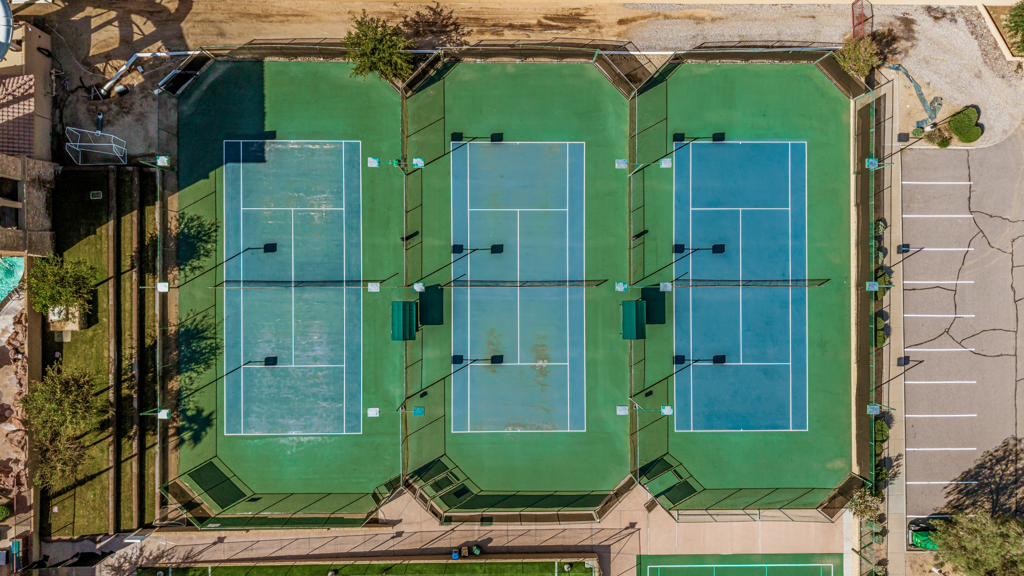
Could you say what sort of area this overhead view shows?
sports ground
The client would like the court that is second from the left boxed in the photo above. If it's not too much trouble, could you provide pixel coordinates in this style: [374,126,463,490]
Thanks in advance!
[407,62,630,512]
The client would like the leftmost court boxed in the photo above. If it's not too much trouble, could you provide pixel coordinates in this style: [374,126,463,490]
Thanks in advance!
[178,61,407,516]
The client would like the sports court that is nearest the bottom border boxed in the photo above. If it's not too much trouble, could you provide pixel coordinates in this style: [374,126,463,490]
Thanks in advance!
[636,554,844,576]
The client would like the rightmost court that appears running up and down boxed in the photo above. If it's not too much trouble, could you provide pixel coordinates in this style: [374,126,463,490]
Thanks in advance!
[630,63,851,509]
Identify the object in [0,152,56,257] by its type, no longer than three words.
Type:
building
